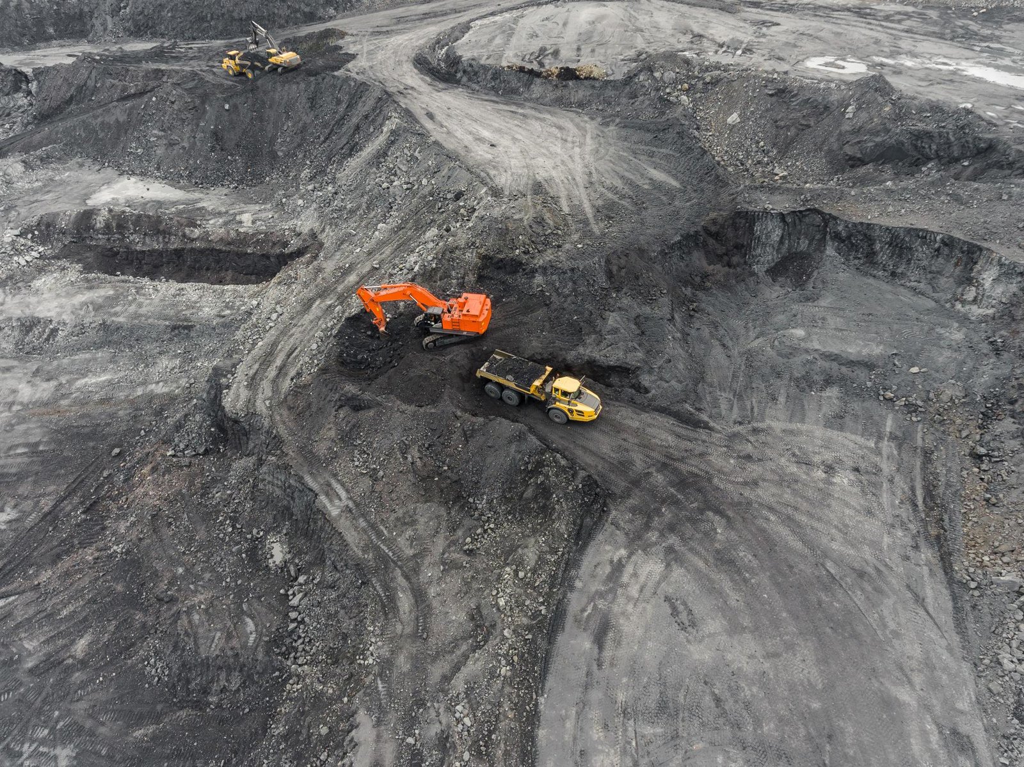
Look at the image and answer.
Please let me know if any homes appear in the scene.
No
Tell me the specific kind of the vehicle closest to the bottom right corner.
truck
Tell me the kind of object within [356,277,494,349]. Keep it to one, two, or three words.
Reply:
work vehicle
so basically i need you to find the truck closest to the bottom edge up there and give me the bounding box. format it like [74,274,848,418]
[474,349,603,430]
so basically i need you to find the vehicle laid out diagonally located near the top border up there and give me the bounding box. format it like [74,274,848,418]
[247,17,301,73]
